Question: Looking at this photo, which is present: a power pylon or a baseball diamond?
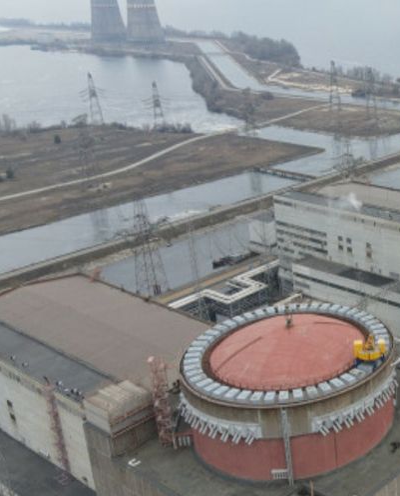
power pylon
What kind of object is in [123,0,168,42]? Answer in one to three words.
cooling tower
